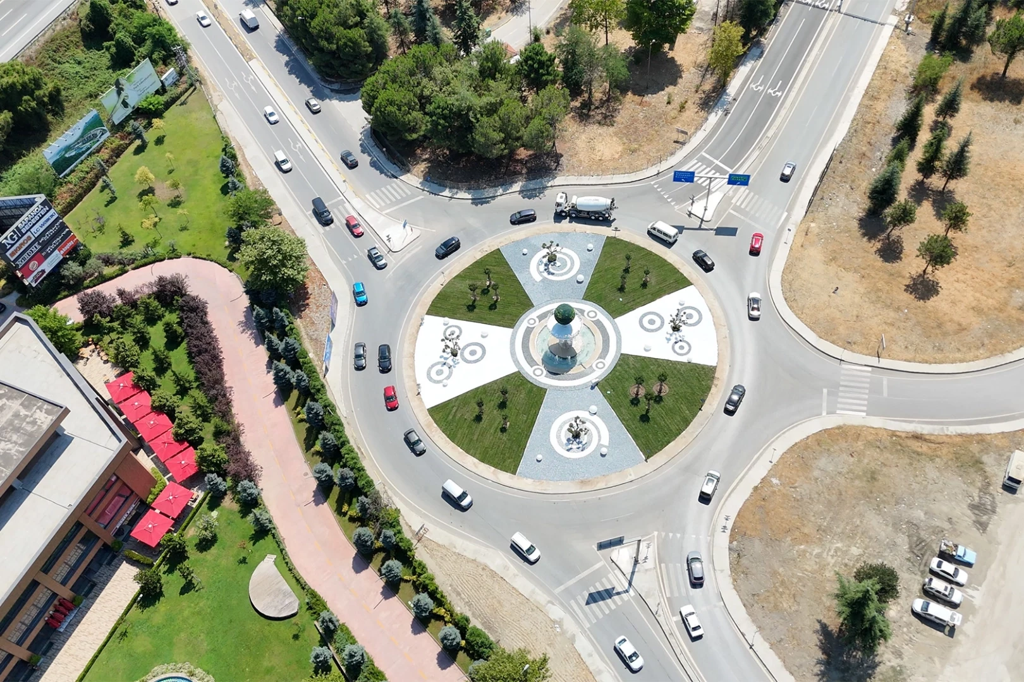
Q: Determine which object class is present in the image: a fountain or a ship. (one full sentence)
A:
Looking from above, you can make out a fountain.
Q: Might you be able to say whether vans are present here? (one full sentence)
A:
Yes, a van can be made out from above.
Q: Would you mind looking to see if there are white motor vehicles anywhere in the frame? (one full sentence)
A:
Yes, the picture does show a white motor vehicle.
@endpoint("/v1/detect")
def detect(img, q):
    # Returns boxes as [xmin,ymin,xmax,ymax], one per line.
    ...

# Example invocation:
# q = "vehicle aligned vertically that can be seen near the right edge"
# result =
[994,439,1024,497]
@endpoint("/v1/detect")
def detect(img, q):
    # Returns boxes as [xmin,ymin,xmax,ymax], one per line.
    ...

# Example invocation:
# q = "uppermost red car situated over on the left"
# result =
[344,214,364,238]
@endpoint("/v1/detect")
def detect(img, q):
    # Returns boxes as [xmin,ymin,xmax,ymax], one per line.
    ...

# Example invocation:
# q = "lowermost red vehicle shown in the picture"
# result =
[382,383,400,413]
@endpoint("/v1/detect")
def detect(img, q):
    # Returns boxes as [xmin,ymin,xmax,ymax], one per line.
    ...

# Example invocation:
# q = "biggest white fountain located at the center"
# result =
[529,301,599,371]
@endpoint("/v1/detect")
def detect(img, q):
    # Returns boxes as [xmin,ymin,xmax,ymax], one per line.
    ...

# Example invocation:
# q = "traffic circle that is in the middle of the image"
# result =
[402,223,733,495]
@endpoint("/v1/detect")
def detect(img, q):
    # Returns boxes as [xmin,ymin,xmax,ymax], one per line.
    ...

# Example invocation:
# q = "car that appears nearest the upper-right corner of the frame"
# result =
[778,161,796,183]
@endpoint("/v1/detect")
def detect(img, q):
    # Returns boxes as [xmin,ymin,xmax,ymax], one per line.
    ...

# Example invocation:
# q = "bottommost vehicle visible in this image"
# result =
[610,630,647,677]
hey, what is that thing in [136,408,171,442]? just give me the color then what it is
red umbrella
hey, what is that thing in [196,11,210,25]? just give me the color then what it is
white car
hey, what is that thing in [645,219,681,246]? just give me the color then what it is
white vehicle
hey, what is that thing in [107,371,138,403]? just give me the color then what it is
red umbrella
